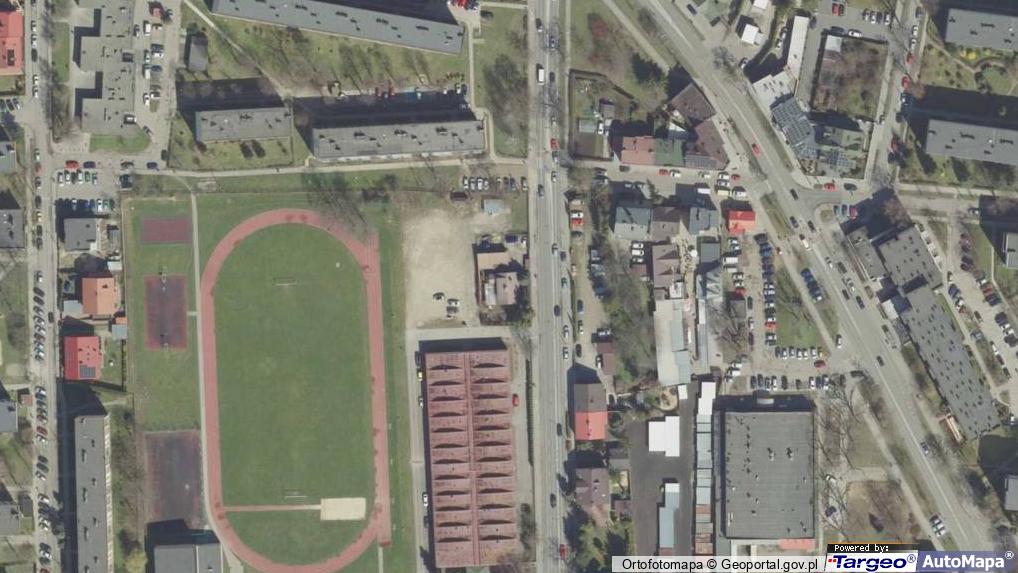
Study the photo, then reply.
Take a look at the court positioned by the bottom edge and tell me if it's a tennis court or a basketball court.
basketball court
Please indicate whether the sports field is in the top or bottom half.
bottom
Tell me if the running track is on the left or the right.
left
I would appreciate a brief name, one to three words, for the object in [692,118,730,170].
house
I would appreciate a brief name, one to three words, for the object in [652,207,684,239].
house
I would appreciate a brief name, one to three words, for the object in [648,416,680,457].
shed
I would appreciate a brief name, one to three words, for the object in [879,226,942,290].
building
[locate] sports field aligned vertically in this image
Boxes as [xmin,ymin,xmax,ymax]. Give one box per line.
[213,223,375,564]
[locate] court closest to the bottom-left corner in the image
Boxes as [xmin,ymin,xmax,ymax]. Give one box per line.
[143,430,204,545]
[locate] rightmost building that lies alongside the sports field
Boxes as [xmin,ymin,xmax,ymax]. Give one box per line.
[425,350,519,567]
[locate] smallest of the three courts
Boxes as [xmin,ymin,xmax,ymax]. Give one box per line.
[139,217,191,245]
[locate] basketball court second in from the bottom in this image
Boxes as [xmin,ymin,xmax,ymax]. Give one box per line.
[144,275,187,349]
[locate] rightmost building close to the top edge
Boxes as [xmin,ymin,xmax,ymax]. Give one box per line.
[944,9,1018,55]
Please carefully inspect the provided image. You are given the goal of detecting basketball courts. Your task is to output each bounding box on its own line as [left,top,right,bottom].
[144,275,187,349]
[139,217,191,245]
[143,430,204,545]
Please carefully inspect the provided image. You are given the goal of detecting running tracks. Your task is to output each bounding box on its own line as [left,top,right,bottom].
[200,210,391,573]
